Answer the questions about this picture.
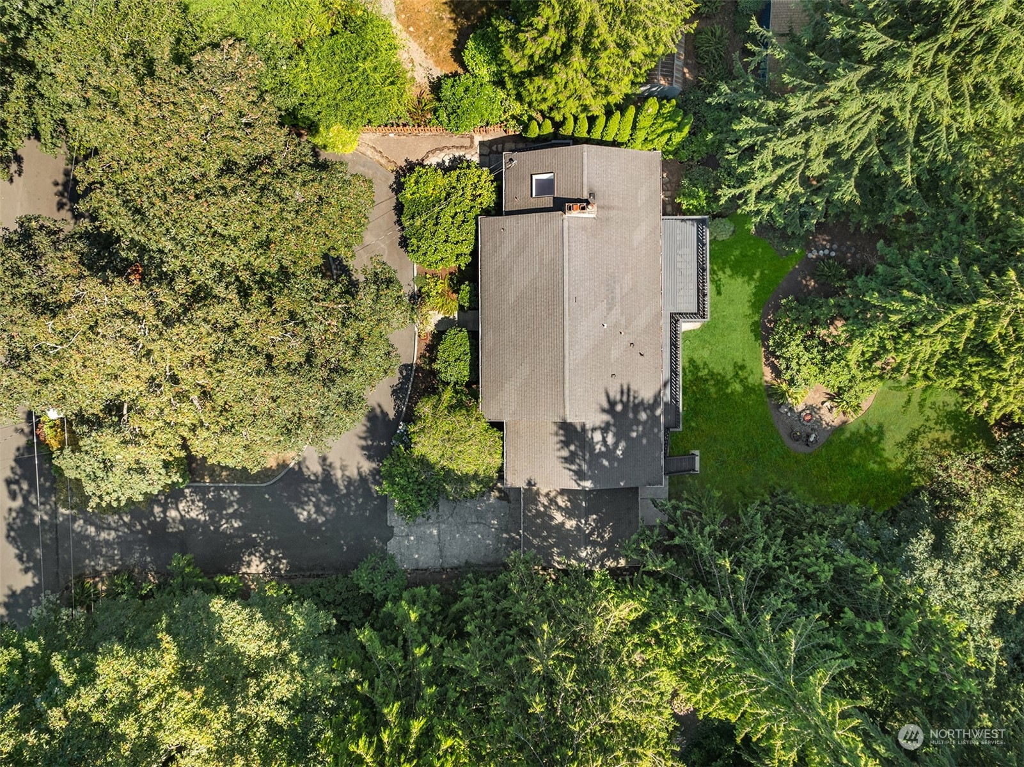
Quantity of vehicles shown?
0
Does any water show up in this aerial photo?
No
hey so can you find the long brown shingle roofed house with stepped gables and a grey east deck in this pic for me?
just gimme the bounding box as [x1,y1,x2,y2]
[477,141,665,574]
